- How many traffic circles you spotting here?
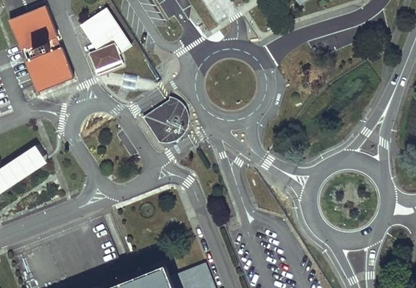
2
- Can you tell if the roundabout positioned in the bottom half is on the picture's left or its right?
right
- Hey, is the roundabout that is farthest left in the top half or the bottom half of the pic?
top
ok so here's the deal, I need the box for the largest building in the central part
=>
[144,98,188,143]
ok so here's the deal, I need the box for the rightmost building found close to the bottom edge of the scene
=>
[178,262,216,288]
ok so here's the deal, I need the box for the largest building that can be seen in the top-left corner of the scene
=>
[8,4,74,93]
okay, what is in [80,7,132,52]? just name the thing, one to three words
building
